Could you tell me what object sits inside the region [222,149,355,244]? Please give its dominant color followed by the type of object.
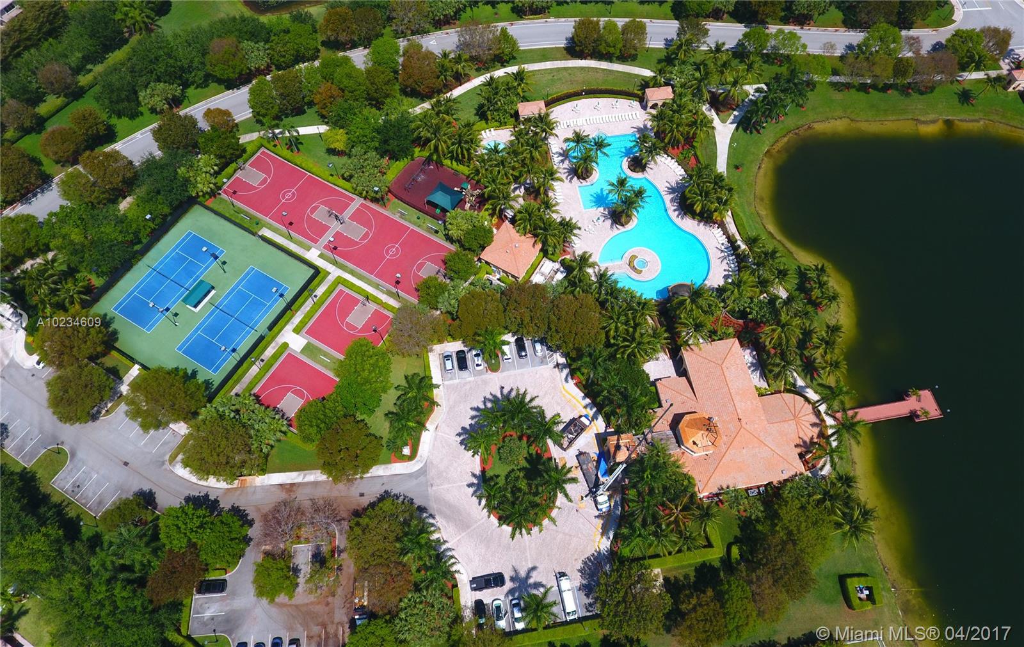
red basketball court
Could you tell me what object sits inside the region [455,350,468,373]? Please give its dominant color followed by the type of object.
black vehicle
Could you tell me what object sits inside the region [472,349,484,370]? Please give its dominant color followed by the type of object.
white vehicle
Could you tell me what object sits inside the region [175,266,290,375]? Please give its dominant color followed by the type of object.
blue tennis court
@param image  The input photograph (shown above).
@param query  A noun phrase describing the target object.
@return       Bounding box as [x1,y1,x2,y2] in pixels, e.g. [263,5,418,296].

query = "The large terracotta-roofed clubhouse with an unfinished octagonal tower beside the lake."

[601,336,820,498]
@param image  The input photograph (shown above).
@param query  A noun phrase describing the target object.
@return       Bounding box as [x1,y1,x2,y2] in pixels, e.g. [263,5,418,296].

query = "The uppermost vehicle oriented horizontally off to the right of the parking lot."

[473,573,504,589]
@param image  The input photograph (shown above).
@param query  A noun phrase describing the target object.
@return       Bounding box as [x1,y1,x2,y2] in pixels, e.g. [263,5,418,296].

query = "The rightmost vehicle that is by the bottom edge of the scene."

[554,572,579,619]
